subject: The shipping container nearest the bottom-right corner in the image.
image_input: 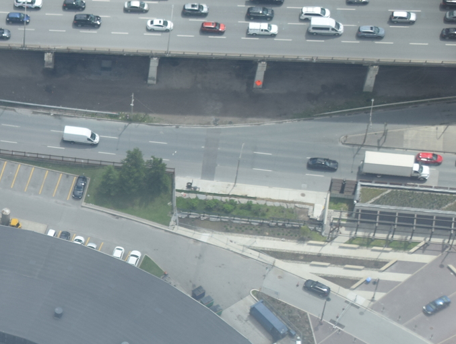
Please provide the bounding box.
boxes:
[244,293,290,340]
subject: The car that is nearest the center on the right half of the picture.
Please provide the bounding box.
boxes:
[308,157,336,171]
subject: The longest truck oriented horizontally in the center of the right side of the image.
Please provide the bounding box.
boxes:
[362,151,426,179]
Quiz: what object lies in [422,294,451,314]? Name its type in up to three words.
car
